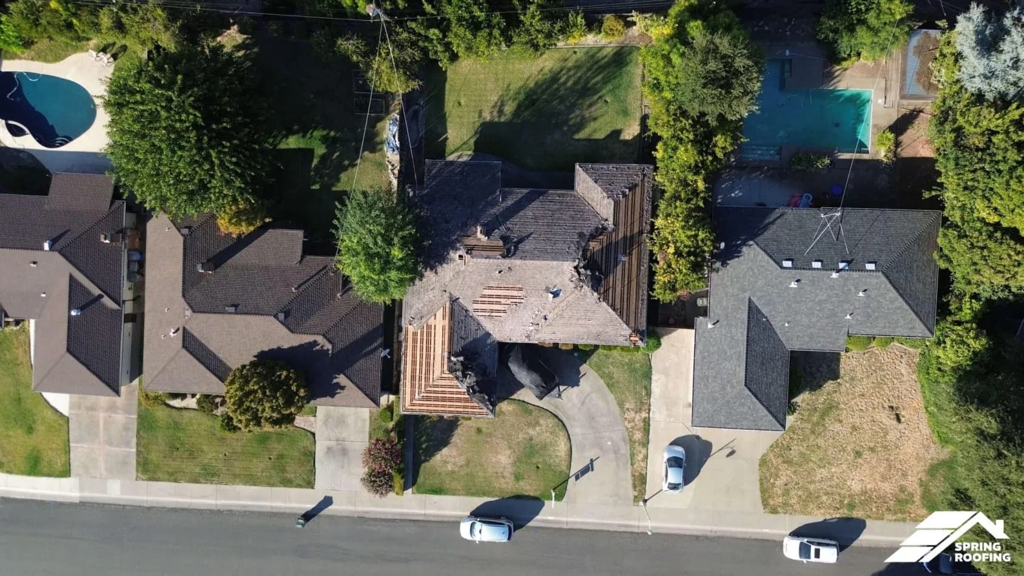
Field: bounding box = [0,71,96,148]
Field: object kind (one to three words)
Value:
swimming pool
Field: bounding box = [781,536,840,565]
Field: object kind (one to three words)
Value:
car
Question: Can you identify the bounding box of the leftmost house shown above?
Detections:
[0,173,136,397]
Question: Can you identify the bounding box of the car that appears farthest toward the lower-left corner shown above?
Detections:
[459,515,513,544]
